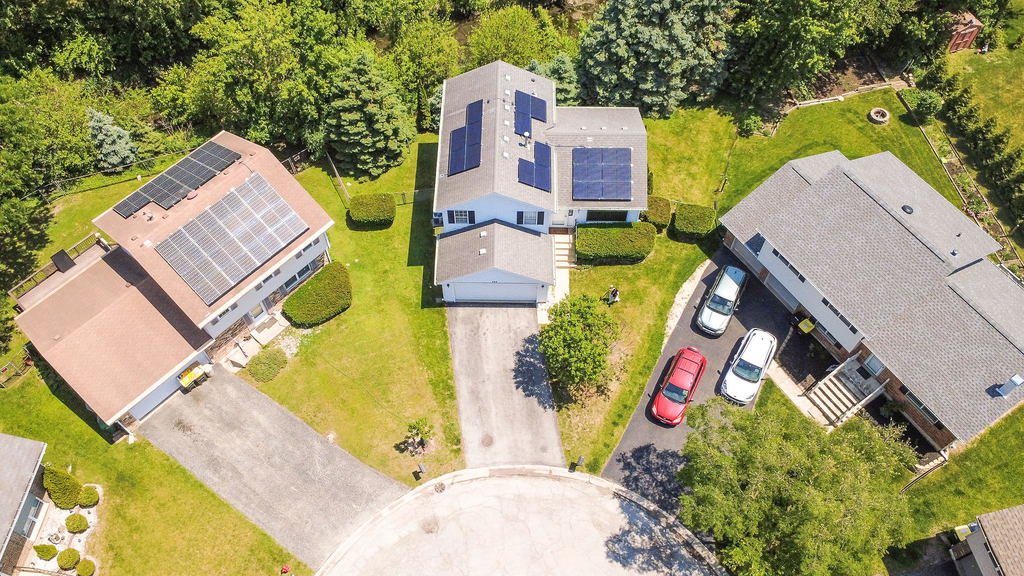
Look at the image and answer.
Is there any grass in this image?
Yes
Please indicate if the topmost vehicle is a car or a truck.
car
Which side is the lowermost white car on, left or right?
right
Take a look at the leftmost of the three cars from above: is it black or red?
red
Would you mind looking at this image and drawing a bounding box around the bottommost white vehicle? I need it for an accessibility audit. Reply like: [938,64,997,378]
[720,326,779,409]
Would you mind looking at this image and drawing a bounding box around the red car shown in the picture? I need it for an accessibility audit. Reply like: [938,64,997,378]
[653,344,707,423]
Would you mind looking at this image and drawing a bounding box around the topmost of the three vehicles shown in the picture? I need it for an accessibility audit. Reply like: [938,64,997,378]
[696,261,750,340]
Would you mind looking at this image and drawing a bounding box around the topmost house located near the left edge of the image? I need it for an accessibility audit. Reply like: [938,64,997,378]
[7,132,336,450]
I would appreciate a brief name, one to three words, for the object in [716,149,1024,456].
house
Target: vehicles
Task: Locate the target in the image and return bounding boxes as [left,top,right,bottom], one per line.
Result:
[653,344,707,423]
[696,261,750,340]
[720,326,779,409]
